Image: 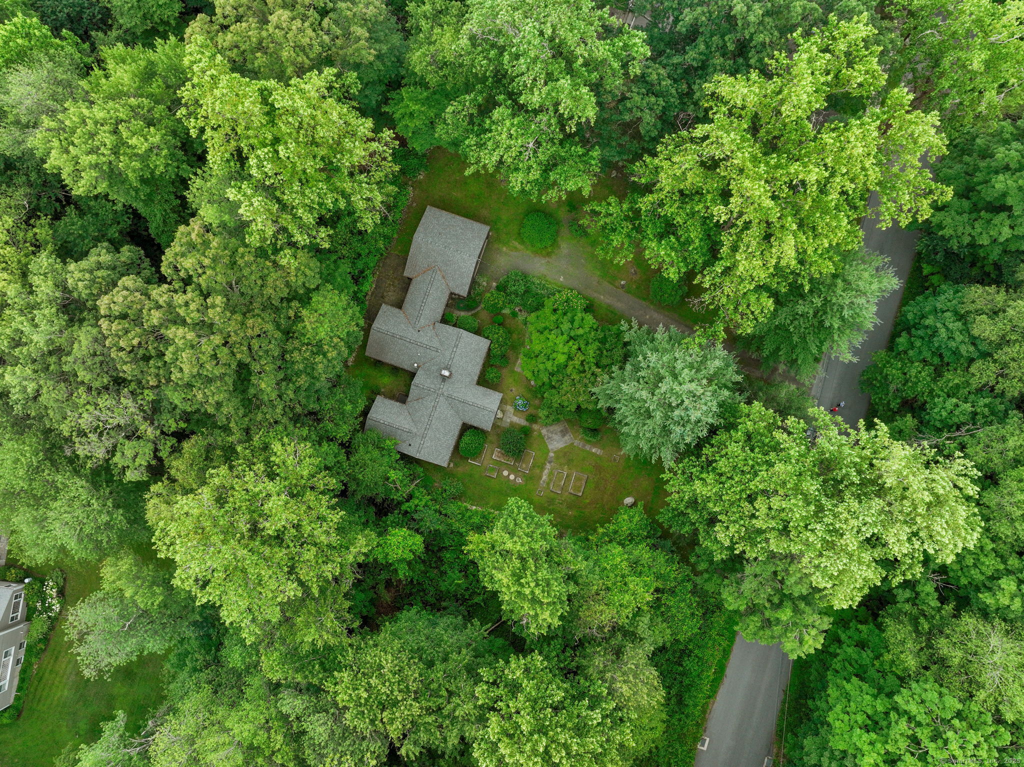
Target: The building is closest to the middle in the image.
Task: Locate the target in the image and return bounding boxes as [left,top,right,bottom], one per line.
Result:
[363,204,503,467]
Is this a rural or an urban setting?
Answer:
rural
